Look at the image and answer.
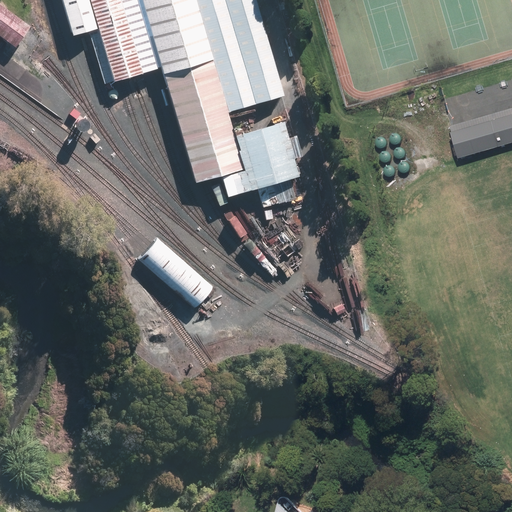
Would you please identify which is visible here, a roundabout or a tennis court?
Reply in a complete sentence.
The image shows a tennis court.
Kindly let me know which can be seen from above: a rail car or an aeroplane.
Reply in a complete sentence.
The one in the frame is a rail car.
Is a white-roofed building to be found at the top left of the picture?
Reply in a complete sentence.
Yes, a white-roofed building is visible at the top left of the picture.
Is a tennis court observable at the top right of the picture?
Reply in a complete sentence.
Yes, a tennis court appears at the top right of the picture.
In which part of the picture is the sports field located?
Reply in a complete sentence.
The sports field appears toward the right of the photo.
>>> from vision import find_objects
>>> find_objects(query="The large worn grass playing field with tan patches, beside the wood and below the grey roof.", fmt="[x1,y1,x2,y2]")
[400,148,512,456]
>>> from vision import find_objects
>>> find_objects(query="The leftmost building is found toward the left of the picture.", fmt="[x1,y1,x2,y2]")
[0,4,31,48]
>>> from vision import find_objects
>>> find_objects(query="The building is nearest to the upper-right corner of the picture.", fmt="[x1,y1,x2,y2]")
[450,108,512,159]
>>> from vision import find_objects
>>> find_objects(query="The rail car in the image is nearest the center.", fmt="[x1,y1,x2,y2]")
[244,239,280,276]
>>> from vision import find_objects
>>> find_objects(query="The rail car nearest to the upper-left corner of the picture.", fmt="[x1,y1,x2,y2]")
[213,184,227,206]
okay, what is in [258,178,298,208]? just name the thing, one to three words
shed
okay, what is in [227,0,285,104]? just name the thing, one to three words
building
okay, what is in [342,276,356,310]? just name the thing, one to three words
rail car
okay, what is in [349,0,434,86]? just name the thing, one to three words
tennis court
